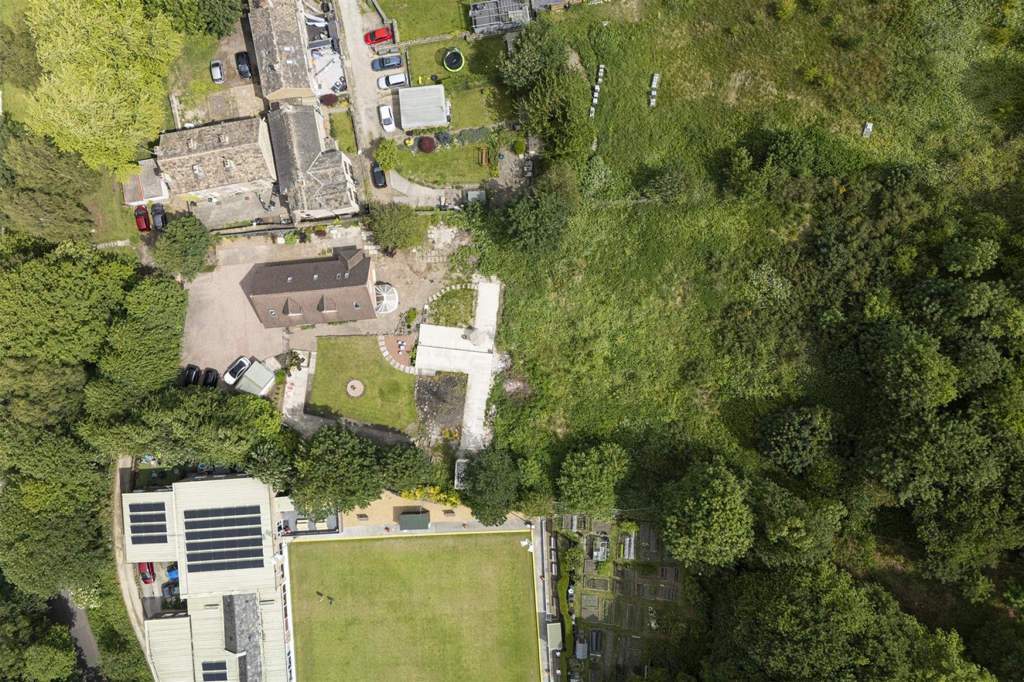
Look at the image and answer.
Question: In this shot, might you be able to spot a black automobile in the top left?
Yes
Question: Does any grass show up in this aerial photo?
Yes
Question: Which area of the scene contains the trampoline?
top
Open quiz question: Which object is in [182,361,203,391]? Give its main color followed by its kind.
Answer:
black car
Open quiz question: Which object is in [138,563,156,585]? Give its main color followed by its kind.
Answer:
red car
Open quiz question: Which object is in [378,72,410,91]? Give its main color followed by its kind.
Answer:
white car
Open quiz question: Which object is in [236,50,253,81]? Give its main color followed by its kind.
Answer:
black car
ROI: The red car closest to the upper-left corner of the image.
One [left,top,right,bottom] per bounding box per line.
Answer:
[134,205,153,234]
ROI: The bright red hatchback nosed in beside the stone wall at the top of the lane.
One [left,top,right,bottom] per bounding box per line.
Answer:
[366,28,394,46]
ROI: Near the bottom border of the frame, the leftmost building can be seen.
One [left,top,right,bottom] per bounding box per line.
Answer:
[121,473,301,682]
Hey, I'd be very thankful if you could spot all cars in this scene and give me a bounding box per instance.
[201,364,221,394]
[209,59,226,86]
[134,205,153,234]
[236,50,253,81]
[138,563,156,585]
[161,565,177,579]
[366,28,394,46]
[225,356,251,385]
[182,361,203,391]
[151,203,169,230]
[373,55,404,73]
[161,582,178,597]
[380,103,395,134]
[371,162,388,190]
[378,72,410,91]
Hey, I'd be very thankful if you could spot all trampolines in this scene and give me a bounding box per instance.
[443,44,463,67]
